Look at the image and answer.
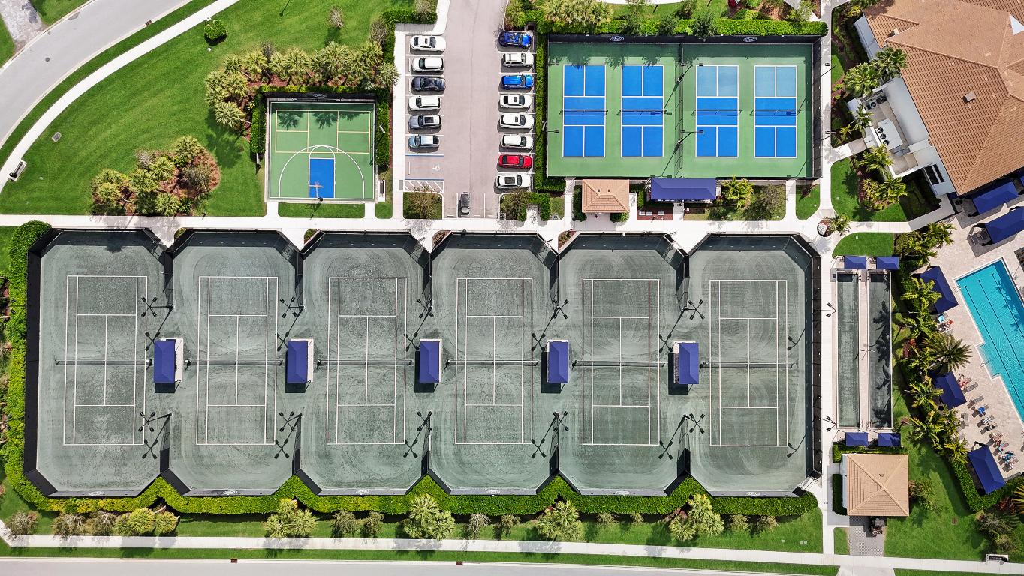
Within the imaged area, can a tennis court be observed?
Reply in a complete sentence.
Yes, the image includes a tennis court.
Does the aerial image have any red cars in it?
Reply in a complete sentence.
Yes, a red car is visible in the scene.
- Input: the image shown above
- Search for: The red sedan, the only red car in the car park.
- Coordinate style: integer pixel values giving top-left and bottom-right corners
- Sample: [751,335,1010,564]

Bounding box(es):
[499,152,532,168]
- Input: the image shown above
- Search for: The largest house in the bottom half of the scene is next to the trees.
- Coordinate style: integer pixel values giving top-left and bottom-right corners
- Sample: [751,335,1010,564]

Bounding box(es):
[841,454,910,517]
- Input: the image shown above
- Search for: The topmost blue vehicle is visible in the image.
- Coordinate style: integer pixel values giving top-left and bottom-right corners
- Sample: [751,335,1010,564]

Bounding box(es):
[500,28,532,46]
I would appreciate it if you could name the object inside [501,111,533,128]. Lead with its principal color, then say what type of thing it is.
white car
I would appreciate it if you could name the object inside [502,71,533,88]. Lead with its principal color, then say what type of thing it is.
blue car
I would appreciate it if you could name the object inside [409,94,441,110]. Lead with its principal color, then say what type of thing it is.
white car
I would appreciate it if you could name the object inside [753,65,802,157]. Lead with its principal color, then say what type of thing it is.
blue sports court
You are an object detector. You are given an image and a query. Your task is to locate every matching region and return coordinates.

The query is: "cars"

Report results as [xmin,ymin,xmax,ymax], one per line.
[498,172,531,188]
[408,133,439,148]
[502,71,533,88]
[411,54,444,71]
[411,74,445,90]
[411,33,445,50]
[500,28,532,46]
[499,152,532,168]
[409,112,441,129]
[502,132,533,148]
[409,94,441,110]
[501,111,533,128]
[501,91,532,107]
[503,49,534,67]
